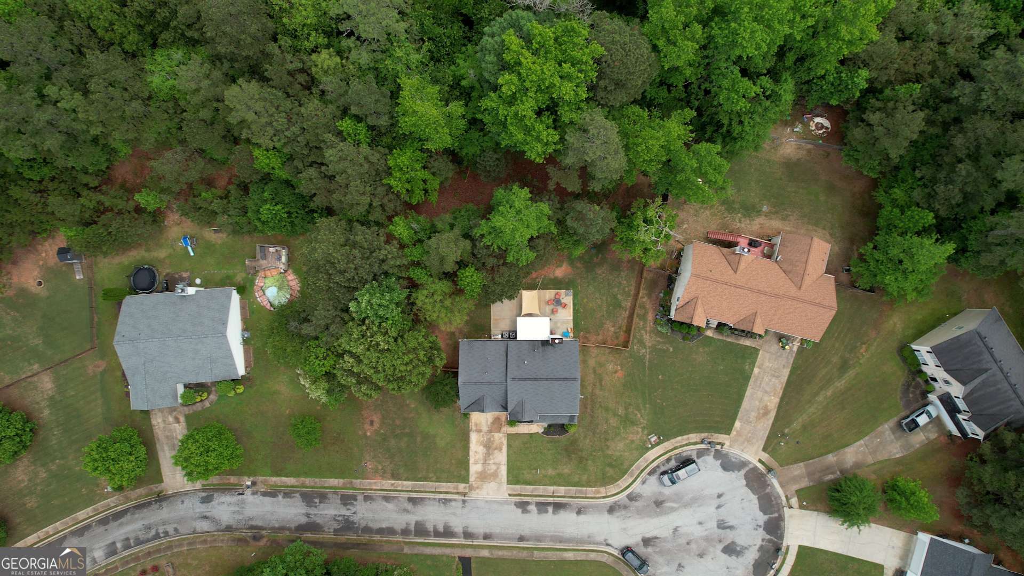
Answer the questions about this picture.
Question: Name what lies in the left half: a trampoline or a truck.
trampoline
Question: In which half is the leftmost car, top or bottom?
bottom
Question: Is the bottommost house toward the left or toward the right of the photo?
right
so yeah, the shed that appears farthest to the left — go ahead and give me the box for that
[51,250,81,278]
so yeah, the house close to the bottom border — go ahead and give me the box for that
[904,533,1004,576]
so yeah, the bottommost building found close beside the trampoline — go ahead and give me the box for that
[117,286,245,409]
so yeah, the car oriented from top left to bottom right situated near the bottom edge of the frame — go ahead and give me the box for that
[620,543,649,576]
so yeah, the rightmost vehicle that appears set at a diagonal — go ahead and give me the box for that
[895,400,941,436]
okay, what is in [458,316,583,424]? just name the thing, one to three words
house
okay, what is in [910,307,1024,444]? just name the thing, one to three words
house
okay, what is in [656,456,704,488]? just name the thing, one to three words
truck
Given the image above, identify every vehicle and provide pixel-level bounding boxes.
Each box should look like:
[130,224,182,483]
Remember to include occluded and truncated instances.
[895,400,941,436]
[620,543,649,576]
[656,456,704,488]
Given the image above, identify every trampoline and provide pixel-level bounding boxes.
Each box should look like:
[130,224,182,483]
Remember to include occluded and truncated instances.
[125,264,161,295]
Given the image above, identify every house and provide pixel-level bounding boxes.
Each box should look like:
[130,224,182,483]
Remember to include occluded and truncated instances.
[458,316,583,424]
[671,232,837,344]
[910,307,1024,444]
[904,533,1004,576]
[117,286,245,409]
